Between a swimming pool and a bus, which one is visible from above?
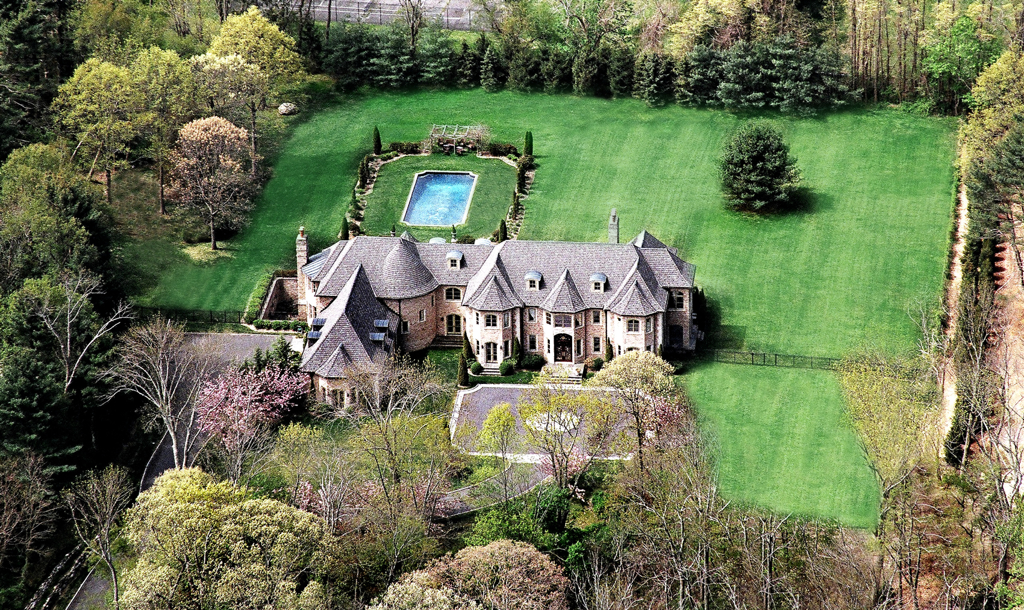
swimming pool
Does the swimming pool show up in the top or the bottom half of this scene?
top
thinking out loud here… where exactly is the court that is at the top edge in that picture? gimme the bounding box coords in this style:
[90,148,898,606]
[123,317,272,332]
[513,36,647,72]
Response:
[284,0,514,29]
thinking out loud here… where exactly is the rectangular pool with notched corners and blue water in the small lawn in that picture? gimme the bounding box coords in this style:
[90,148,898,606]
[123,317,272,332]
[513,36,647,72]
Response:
[403,171,478,225]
